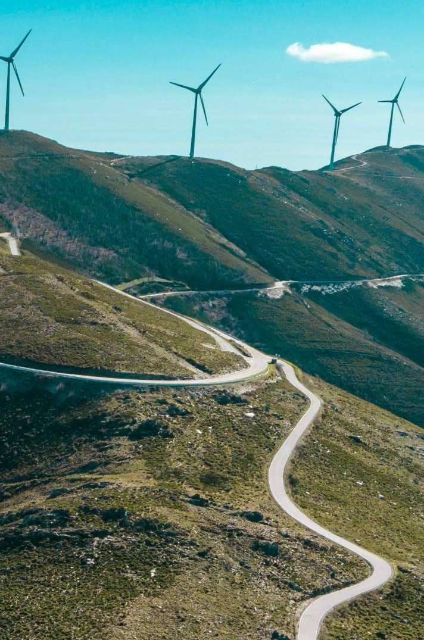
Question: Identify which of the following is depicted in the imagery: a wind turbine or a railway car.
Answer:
wind turbine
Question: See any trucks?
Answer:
No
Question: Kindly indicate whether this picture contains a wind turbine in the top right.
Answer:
Yes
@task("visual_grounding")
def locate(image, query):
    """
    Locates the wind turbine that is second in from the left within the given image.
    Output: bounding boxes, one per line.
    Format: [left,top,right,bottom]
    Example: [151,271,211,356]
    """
[164,61,219,161]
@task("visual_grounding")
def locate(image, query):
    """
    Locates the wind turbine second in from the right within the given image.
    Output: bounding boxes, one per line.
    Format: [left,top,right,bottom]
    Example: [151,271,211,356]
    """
[317,96,362,169]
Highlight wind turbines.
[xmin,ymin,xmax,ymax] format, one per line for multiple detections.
[164,61,219,161]
[317,96,362,169]
[0,23,30,132]
[370,76,404,146]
